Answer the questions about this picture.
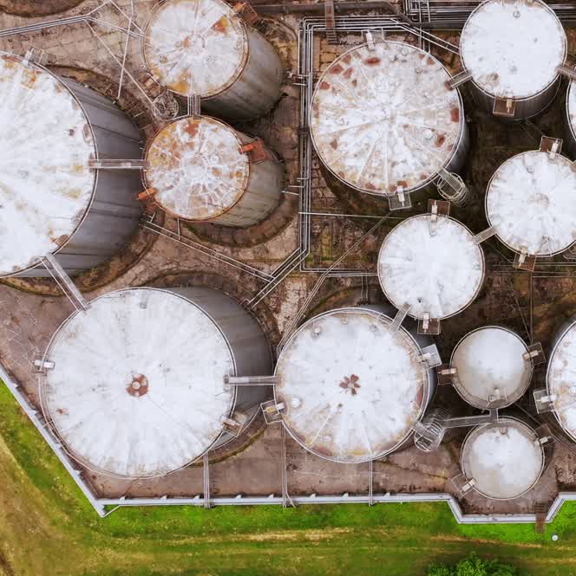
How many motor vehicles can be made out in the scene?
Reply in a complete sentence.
The picture shows no motor vehicles.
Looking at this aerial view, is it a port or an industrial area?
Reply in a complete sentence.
This looks like an industrial area.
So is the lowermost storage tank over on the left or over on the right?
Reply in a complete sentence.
The lowermost storage tank sits on the right side.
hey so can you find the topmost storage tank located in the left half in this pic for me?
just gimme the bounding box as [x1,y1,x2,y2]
[131,0,285,120]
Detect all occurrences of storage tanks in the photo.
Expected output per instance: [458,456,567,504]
[125,113,286,227]
[0,36,146,277]
[485,130,576,275]
[253,303,443,466]
[131,0,285,120]
[431,319,550,411]
[447,401,560,506]
[529,310,576,445]
[458,0,567,122]
[376,194,488,340]
[306,18,471,213]
[15,284,273,483]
